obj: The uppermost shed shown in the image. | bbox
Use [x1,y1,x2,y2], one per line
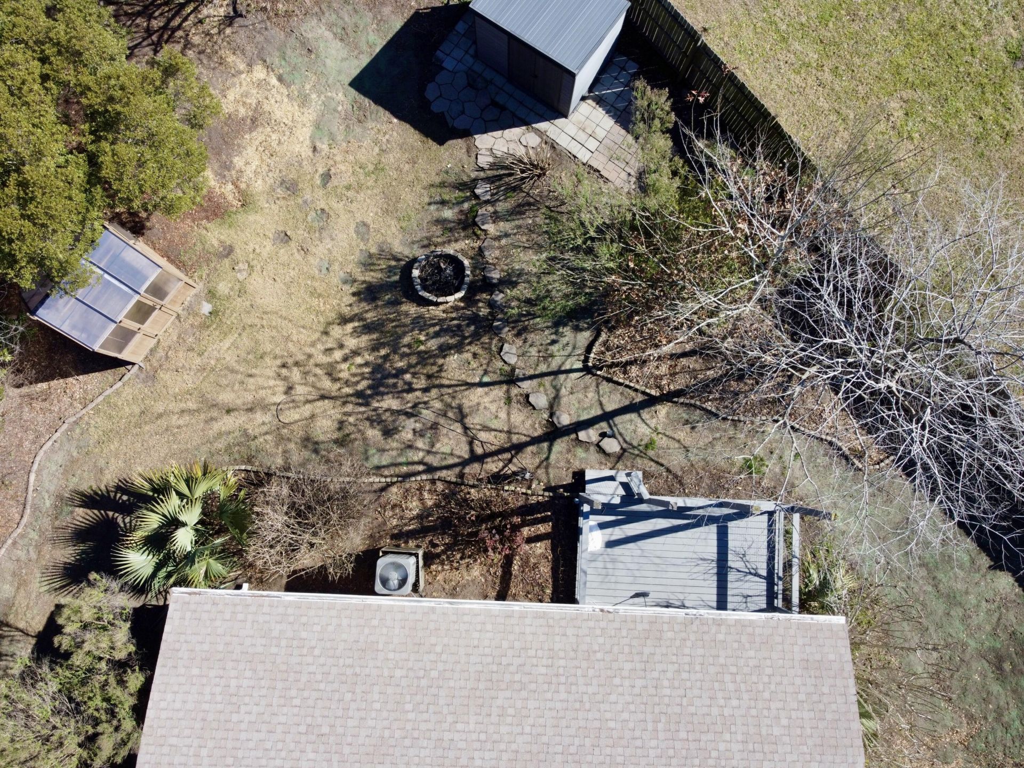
[469,0,629,112]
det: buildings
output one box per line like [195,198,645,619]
[3,212,196,363]
[469,0,629,112]
[135,583,865,768]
